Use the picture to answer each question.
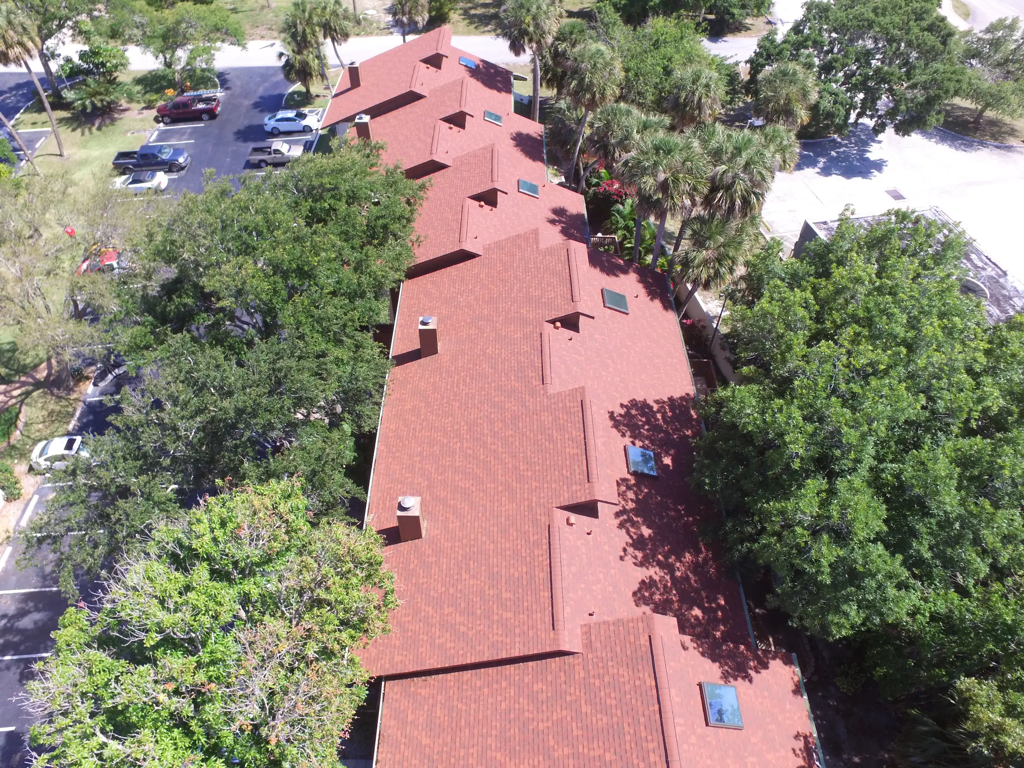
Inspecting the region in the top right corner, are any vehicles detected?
No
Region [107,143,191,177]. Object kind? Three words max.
truck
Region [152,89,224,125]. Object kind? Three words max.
truck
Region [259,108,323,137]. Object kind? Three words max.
car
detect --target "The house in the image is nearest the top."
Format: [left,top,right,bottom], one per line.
[320,27,522,146]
